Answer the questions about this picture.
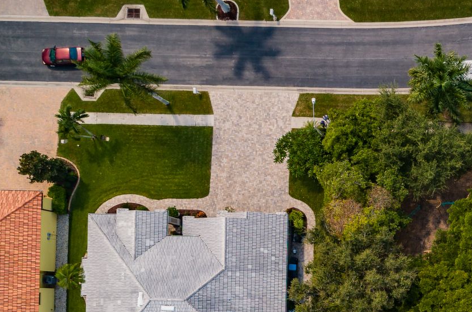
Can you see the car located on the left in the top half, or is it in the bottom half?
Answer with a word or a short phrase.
top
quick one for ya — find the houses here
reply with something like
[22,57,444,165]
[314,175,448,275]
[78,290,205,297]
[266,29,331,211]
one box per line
[0,188,58,312]
[85,206,292,312]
